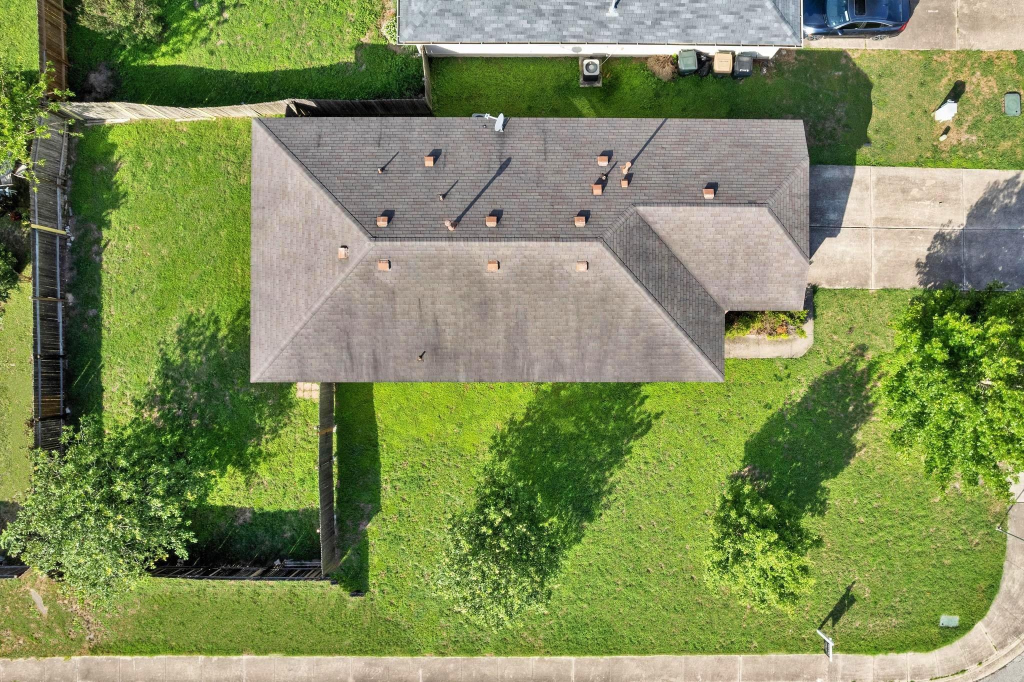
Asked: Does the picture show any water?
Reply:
No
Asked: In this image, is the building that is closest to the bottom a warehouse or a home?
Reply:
home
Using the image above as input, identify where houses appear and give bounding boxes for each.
[397,0,801,56]
[250,118,810,383]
